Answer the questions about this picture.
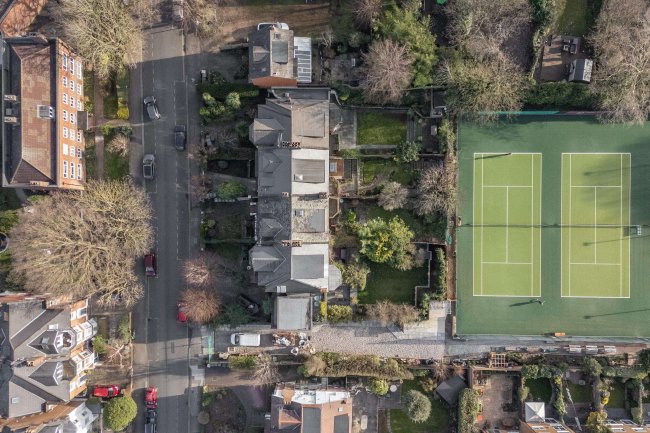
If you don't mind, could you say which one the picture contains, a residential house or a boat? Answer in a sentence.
I can see a residential house in this picture.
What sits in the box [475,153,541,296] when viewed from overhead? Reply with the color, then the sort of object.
green tennis court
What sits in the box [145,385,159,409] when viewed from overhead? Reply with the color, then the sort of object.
red vehicle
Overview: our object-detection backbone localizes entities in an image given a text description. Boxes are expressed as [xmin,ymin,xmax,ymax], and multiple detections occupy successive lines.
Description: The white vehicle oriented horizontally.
[230,333,261,347]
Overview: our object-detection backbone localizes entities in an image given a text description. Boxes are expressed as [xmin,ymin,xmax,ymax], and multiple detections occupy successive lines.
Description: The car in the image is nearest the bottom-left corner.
[94,384,120,397]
